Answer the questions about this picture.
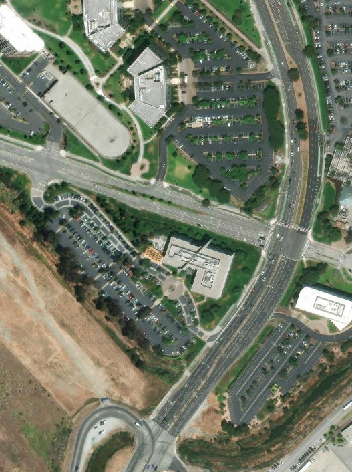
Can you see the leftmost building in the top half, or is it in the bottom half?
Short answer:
top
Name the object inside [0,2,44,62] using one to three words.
building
